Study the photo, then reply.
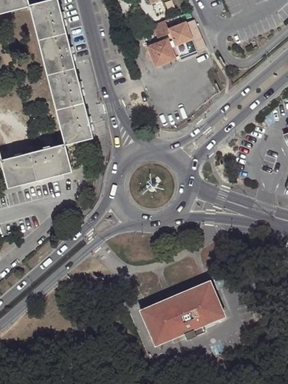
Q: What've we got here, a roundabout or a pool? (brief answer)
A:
roundabout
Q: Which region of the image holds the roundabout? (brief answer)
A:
center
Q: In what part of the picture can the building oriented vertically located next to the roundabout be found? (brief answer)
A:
top left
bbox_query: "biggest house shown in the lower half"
[140,280,226,347]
